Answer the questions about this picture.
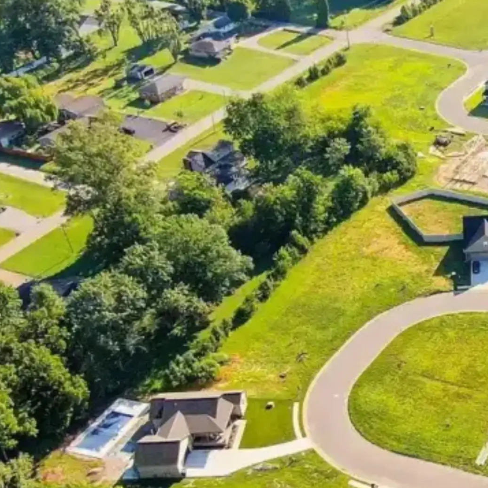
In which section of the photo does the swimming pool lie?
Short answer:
bottom left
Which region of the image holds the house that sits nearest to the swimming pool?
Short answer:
bottom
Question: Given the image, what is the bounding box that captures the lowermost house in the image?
[132,384,267,477]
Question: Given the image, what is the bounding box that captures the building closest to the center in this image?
[172,131,242,192]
